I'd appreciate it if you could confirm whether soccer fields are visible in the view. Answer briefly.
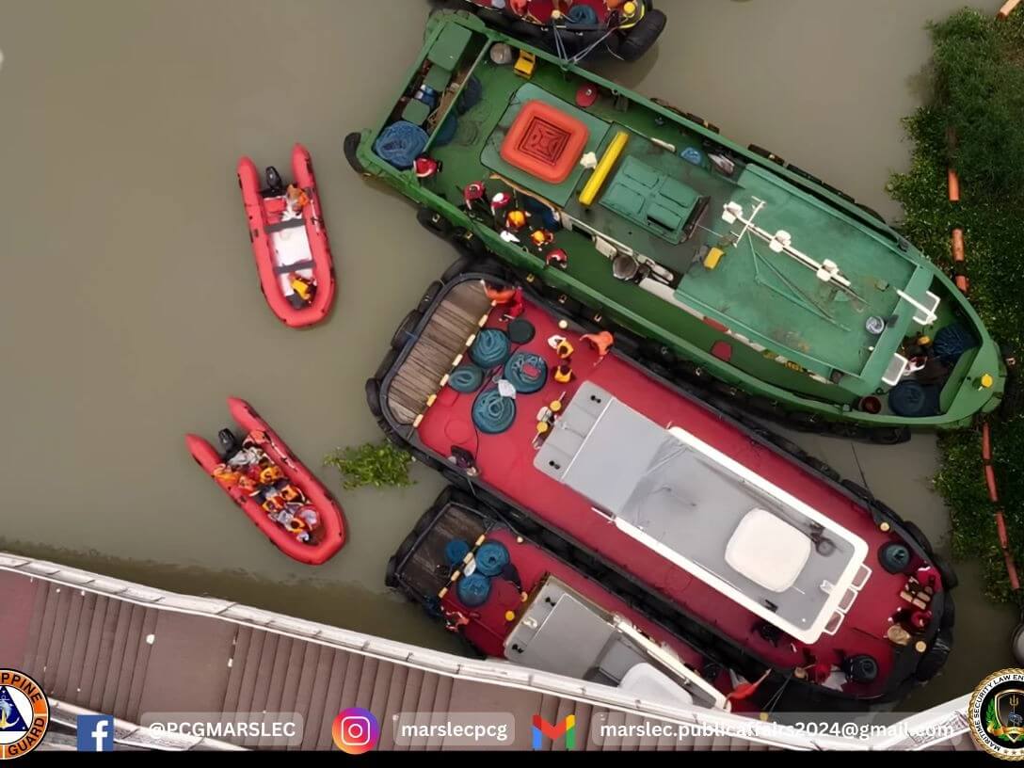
No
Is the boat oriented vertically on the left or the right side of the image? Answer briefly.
left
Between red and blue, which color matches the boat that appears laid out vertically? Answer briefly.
red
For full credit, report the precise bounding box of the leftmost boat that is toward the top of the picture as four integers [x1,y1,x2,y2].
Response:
[238,144,337,329]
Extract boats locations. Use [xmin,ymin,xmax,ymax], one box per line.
[433,0,671,63]
[341,1,1017,442]
[238,144,337,329]
[187,397,347,563]
[381,477,767,718]
[363,256,956,707]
